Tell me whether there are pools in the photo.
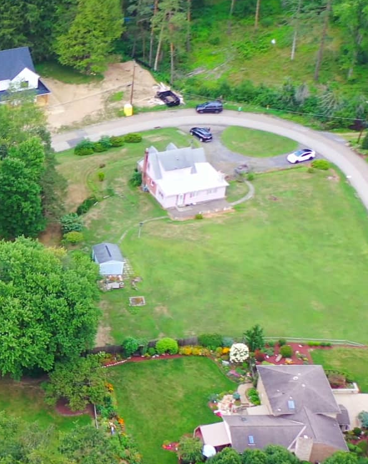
No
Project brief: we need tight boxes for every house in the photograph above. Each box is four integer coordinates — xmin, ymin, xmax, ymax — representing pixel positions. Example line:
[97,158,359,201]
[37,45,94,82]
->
[126,134,231,209]
[0,48,44,106]
[199,365,359,464]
